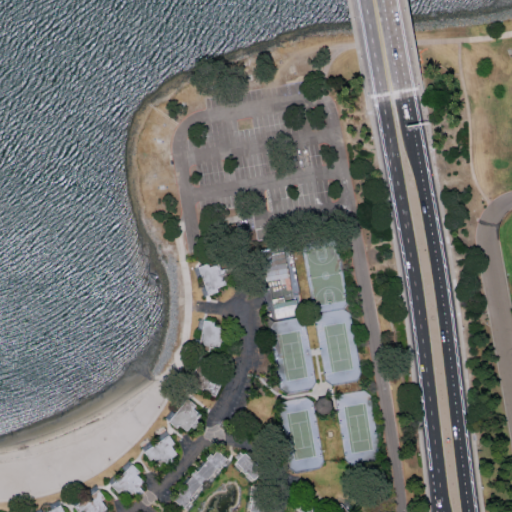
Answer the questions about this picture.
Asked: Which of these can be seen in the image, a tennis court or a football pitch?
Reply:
tennis court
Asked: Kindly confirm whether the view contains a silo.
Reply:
No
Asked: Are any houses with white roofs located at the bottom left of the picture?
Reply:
Yes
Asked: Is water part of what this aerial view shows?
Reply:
Yes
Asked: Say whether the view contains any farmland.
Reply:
No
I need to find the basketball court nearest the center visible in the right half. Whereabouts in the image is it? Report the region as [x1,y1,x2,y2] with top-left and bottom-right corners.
[304,242,348,311]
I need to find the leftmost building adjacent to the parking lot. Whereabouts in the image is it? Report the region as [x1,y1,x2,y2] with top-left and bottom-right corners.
[195,265,227,297]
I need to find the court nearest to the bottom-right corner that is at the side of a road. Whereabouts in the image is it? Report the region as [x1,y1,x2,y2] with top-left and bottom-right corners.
[338,391,378,463]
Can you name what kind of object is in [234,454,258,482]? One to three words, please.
building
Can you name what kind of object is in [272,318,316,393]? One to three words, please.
tennis court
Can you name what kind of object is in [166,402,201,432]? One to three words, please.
house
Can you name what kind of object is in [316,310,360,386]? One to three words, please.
tennis court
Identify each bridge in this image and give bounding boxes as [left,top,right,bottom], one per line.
[350,0,424,98]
